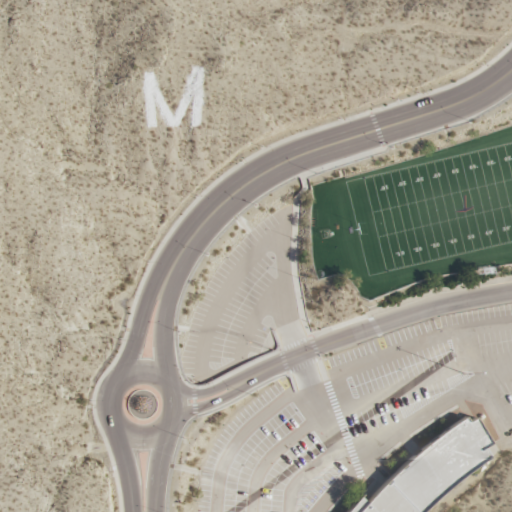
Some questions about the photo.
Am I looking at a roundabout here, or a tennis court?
roundabout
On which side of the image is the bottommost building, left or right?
right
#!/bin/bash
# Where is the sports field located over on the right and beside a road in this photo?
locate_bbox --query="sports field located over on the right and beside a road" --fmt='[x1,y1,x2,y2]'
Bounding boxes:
[312,128,512,300]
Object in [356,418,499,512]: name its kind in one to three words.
building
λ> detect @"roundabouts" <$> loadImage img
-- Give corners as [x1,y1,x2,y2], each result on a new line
[109,370,176,437]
